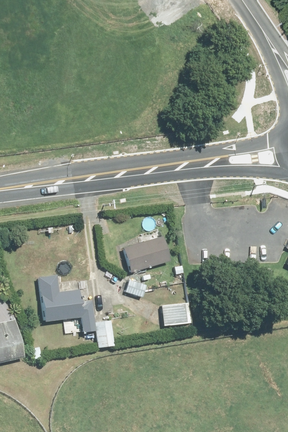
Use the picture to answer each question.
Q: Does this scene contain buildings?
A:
Yes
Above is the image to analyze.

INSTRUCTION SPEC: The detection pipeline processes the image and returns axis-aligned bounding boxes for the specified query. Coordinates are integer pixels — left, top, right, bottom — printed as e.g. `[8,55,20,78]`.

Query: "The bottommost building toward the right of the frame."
[162,303,192,326]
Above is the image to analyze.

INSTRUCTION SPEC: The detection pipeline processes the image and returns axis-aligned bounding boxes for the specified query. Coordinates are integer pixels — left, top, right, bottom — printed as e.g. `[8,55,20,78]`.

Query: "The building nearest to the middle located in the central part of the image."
[124,236,170,272]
